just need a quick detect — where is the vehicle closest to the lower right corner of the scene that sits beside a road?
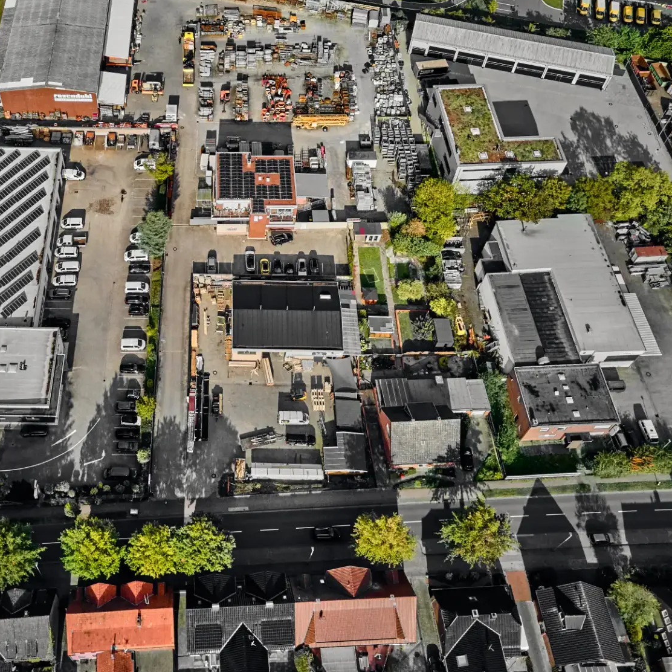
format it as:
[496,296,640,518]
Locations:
[585,530,618,546]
